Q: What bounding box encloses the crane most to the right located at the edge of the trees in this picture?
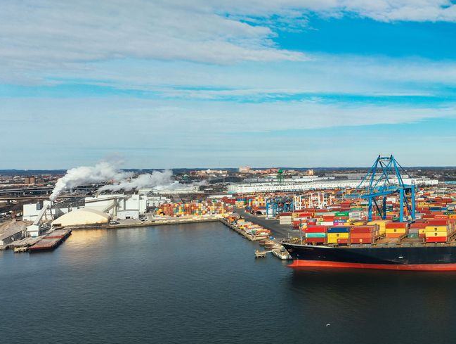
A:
[356,148,419,220]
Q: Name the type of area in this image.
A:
port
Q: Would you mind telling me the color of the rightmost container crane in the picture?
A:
blue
